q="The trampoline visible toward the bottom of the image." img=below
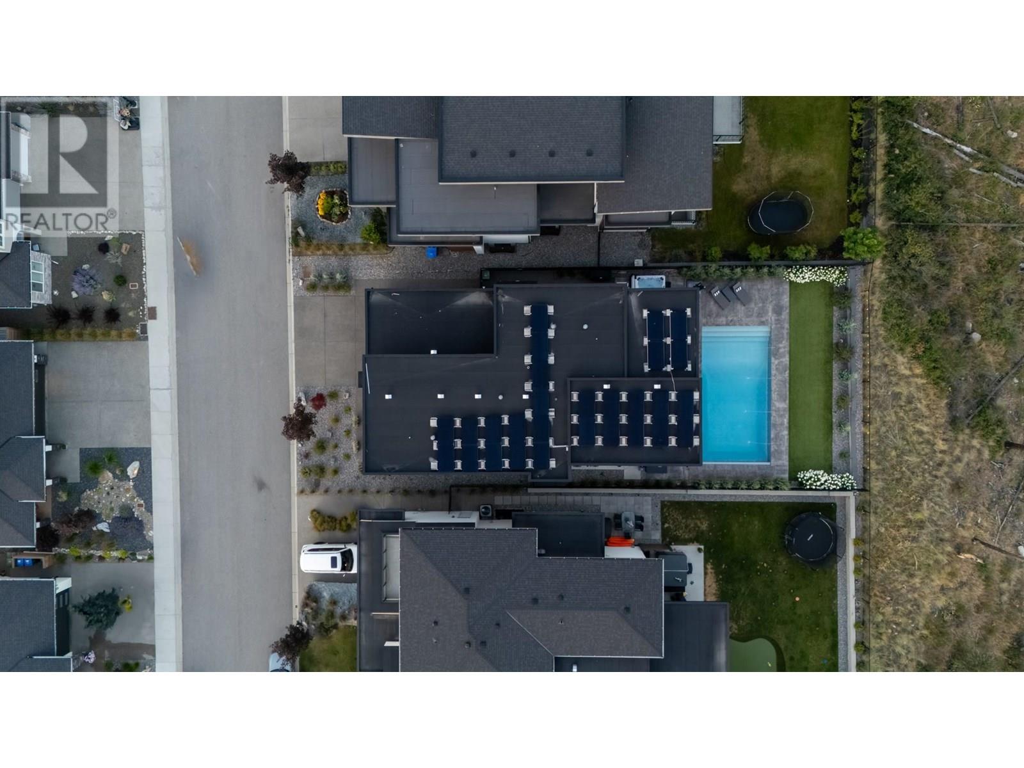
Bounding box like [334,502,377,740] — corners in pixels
[781,509,851,573]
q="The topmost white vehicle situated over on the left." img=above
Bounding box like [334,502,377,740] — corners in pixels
[299,544,358,580]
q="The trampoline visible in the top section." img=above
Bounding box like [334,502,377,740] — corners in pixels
[746,187,818,239]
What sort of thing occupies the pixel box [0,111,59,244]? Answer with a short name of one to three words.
house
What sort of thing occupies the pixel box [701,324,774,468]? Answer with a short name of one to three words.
swimming pool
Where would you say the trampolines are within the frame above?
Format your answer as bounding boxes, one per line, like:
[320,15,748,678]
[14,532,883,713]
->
[781,509,851,573]
[746,187,818,239]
